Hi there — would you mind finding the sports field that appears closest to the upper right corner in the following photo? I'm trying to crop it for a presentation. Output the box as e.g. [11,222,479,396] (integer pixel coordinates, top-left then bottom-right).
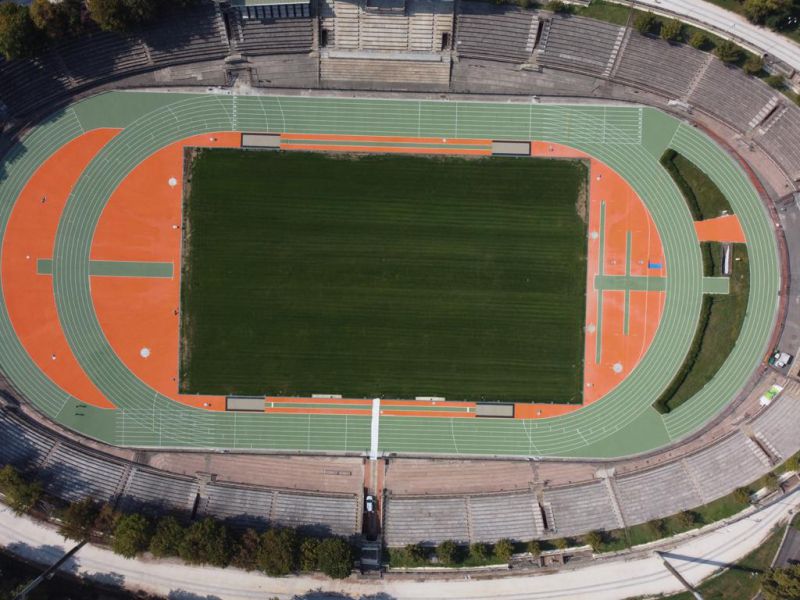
[695,215,745,243]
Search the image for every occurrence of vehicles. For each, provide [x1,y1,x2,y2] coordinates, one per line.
[365,496,373,512]
[774,352,794,365]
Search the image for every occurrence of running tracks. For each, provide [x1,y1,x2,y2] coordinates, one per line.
[0,90,781,459]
